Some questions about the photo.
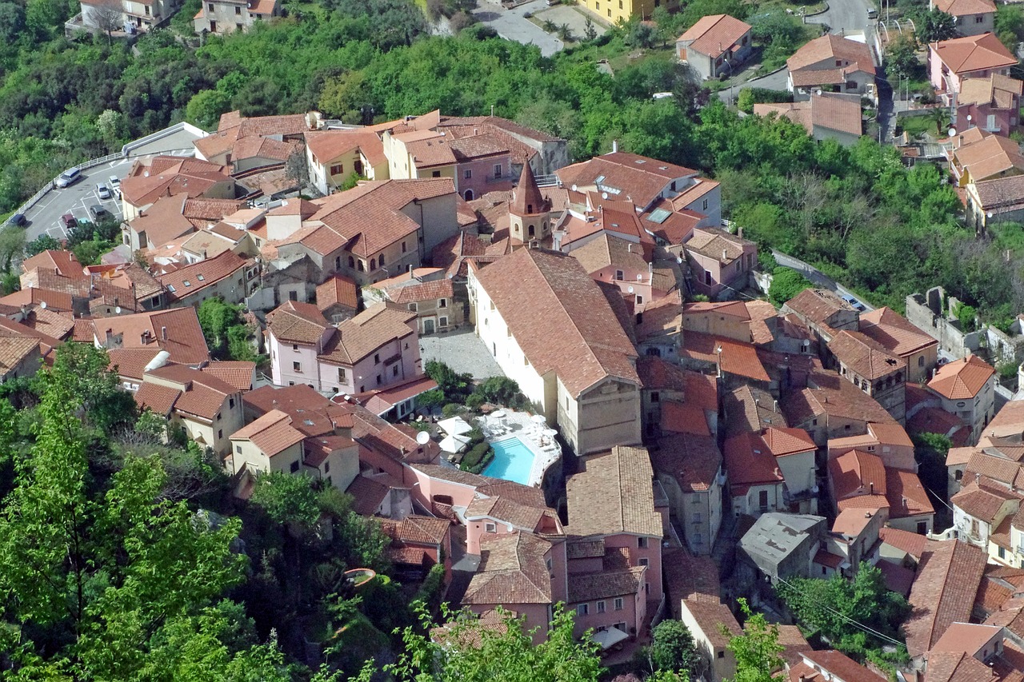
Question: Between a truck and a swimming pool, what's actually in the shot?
swimming pool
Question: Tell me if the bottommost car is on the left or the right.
right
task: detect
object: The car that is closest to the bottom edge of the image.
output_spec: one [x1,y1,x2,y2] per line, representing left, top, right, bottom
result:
[841,288,868,311]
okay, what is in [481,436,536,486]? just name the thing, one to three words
swimming pool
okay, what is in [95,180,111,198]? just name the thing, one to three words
car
